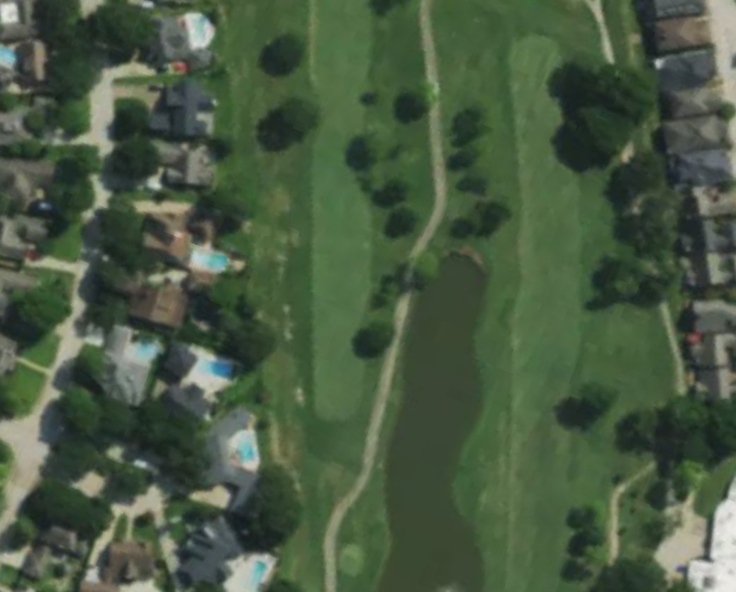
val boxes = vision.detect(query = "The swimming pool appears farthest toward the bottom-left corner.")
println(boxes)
[224,552,277,592]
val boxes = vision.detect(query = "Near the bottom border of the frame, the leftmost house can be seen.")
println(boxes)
[21,527,92,583]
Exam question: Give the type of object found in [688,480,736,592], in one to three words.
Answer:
building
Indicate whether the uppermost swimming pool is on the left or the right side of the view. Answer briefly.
left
